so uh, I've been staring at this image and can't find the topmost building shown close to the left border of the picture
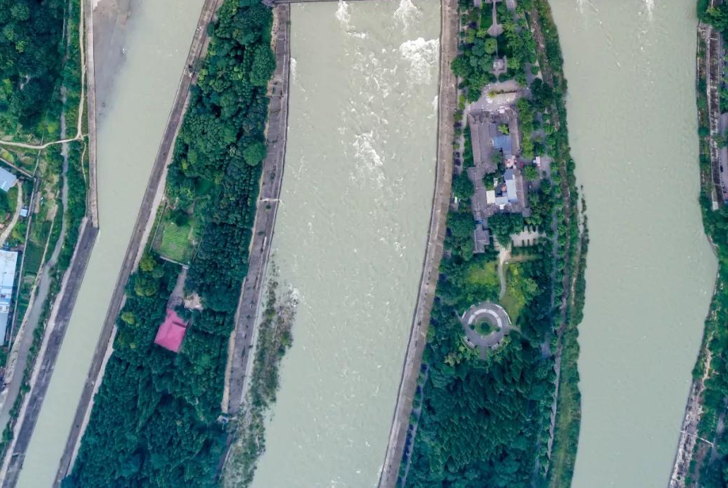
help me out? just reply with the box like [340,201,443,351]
[0,163,19,193]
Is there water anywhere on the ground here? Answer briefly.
Yes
